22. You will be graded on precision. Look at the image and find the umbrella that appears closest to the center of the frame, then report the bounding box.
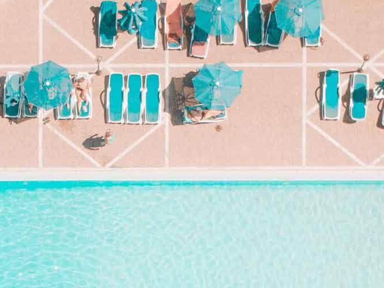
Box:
[194,58,242,106]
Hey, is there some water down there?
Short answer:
Yes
